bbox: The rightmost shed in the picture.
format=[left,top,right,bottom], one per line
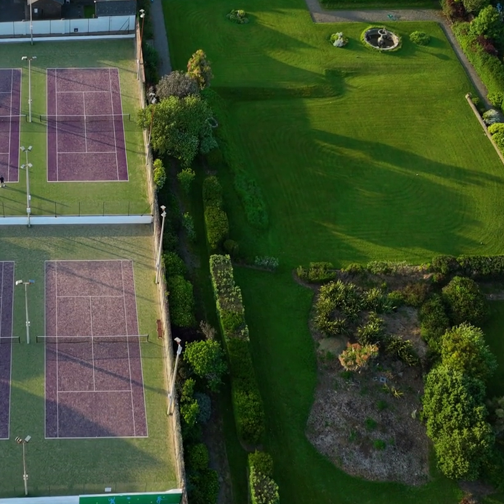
[94,0,138,21]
